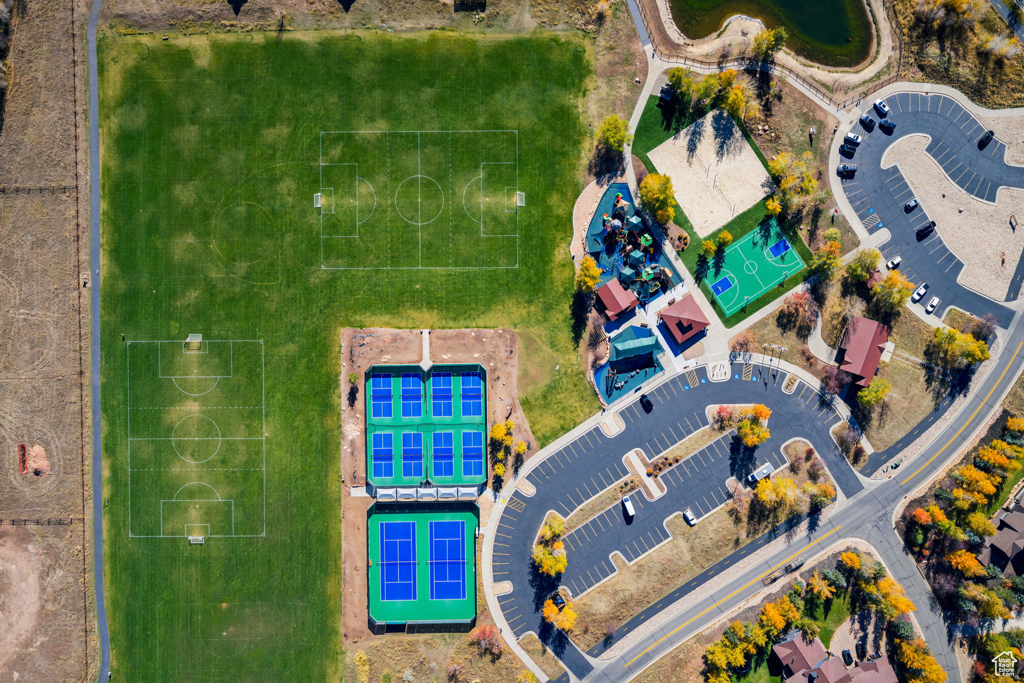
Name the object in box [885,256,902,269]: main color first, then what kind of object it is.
white vehicle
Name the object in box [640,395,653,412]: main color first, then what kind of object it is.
black vehicle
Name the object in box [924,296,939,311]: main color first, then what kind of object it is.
white car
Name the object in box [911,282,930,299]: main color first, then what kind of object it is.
white car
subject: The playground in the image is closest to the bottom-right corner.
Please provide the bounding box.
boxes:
[594,325,665,405]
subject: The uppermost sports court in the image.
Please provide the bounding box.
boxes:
[647,106,778,238]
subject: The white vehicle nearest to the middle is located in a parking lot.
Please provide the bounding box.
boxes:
[621,494,636,518]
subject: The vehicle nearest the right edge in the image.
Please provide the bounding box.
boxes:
[978,130,993,147]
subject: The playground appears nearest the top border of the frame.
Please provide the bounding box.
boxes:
[586,182,683,313]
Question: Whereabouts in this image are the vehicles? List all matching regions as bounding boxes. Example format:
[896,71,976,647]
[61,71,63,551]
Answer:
[683,508,695,525]
[640,395,653,412]
[844,132,861,144]
[836,165,857,173]
[860,114,876,129]
[841,647,852,665]
[854,642,865,660]
[621,494,636,518]
[916,224,933,238]
[885,256,902,269]
[746,462,776,481]
[838,144,856,154]
[877,119,897,131]
[924,296,939,311]
[903,198,920,211]
[911,282,930,299]
[874,99,889,115]
[978,130,993,147]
